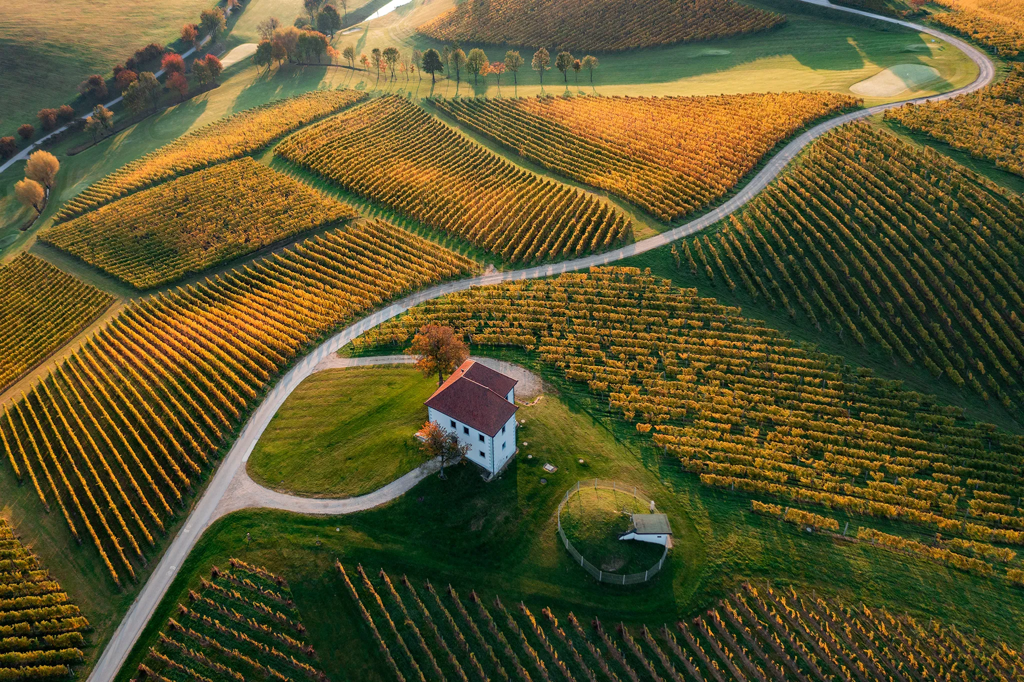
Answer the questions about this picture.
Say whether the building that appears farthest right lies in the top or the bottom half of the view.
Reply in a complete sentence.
The building that appears farthest right is in the bottom half of the image.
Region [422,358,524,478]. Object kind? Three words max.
house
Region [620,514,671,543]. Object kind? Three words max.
building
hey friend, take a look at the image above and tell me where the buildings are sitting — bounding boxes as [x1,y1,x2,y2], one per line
[620,514,671,543]
[422,358,524,478]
